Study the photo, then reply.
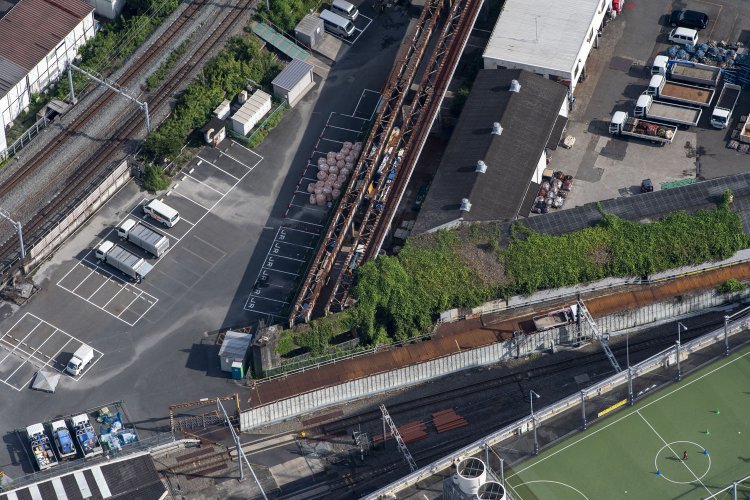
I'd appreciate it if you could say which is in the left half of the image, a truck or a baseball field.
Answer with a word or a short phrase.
truck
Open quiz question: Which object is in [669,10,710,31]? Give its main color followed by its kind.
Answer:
black car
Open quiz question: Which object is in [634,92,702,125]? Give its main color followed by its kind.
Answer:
gray truck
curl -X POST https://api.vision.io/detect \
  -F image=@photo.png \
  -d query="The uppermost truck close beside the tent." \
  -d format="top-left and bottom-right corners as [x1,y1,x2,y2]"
[66,337,97,372]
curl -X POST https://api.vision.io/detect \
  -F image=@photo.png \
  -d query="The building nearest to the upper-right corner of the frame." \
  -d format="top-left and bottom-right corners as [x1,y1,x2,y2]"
[479,0,611,114]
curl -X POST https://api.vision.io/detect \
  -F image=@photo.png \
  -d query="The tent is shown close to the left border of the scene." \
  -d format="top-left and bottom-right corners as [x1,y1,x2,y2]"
[32,373,62,397]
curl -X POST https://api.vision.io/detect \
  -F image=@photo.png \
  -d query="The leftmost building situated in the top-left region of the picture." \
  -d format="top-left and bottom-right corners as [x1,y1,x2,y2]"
[0,0,97,131]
